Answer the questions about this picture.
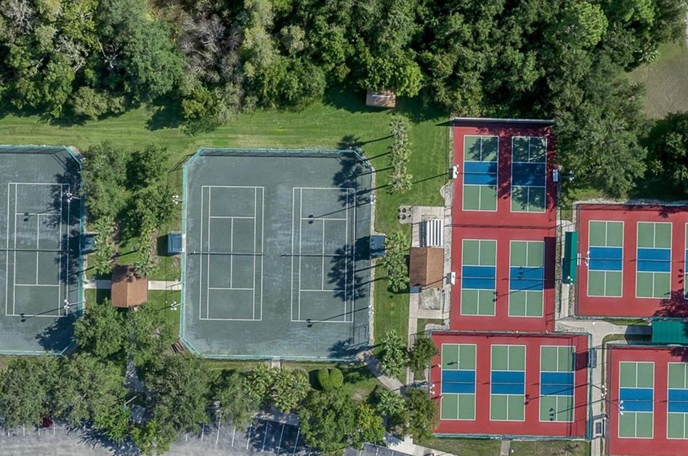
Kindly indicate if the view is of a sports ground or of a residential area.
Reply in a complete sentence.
This image shows a sports ground.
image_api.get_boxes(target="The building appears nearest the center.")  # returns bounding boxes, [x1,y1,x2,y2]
[410,247,444,288]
